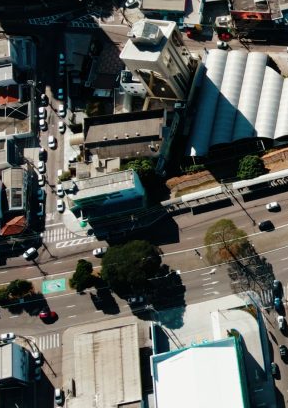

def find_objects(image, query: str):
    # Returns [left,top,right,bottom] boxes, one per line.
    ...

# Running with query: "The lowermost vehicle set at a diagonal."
[21,246,40,261]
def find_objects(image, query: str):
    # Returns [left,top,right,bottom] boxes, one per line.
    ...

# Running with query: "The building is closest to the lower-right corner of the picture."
[153,339,261,408]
